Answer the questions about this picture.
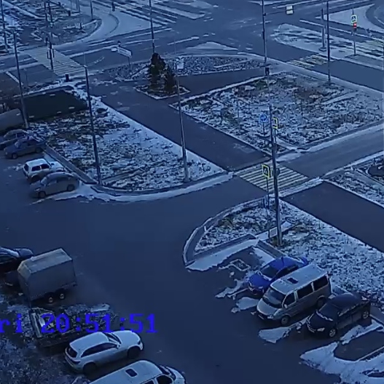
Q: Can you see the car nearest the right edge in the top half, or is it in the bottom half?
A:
bottom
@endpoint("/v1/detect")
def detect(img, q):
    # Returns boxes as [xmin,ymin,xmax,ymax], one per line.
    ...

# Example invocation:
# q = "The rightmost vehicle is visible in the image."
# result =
[301,289,376,339]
